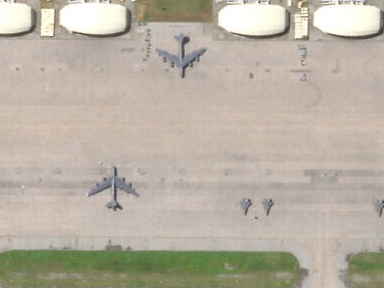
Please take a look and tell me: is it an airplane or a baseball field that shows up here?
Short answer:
airplane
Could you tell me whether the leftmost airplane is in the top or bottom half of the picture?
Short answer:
bottom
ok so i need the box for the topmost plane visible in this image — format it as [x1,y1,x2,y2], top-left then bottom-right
[156,33,207,78]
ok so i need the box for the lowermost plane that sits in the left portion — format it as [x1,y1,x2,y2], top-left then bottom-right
[88,167,139,210]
